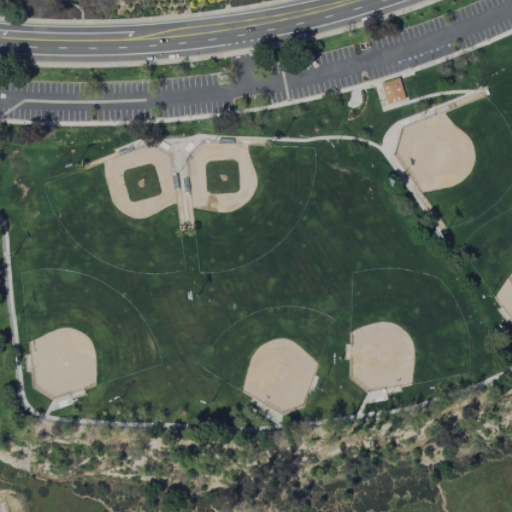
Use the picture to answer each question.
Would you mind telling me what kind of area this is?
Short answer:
sports ground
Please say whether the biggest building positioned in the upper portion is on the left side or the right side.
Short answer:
right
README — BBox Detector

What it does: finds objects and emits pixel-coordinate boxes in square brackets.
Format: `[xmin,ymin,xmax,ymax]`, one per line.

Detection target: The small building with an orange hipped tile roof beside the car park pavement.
[384,77,406,104]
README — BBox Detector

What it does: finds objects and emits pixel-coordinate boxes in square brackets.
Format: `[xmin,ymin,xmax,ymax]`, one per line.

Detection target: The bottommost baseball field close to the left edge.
[23,268,161,399]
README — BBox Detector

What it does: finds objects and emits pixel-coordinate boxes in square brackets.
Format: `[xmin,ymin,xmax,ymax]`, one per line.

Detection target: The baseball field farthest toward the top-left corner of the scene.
[46,148,185,274]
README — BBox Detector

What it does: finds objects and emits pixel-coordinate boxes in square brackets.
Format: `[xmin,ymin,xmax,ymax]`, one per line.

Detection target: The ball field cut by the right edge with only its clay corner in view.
[467,210,512,320]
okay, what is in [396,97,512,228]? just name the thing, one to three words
baseball field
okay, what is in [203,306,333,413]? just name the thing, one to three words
baseball field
